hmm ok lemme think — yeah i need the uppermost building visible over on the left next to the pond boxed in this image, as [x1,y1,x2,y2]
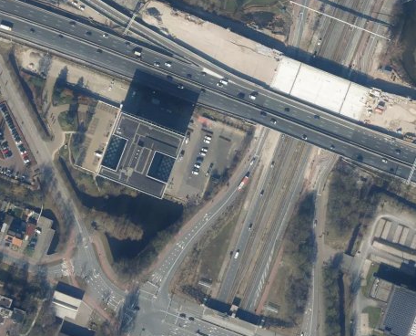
[97,113,185,202]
